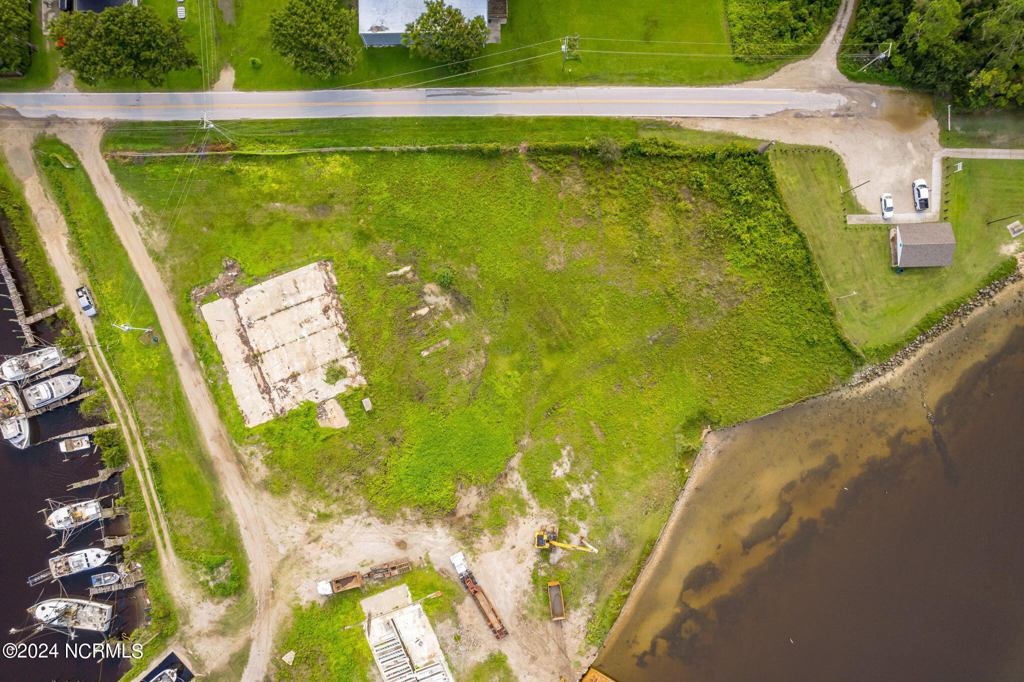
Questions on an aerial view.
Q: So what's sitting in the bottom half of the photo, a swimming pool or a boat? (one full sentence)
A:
The one visible in the bottom half of the photo is a boat.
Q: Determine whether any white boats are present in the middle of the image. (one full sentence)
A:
No, no white boat can be made out in the middle of the image.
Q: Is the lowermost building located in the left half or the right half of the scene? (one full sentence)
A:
The lowermost building appears in the right half of the scene.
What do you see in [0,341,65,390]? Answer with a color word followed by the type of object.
white boat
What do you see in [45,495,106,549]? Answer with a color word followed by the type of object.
white boat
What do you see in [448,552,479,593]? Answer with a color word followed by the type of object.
white truck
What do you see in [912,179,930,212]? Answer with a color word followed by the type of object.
white vehicle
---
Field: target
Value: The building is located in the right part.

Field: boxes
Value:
[887,223,956,268]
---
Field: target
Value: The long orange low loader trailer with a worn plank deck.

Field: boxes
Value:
[465,577,515,653]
